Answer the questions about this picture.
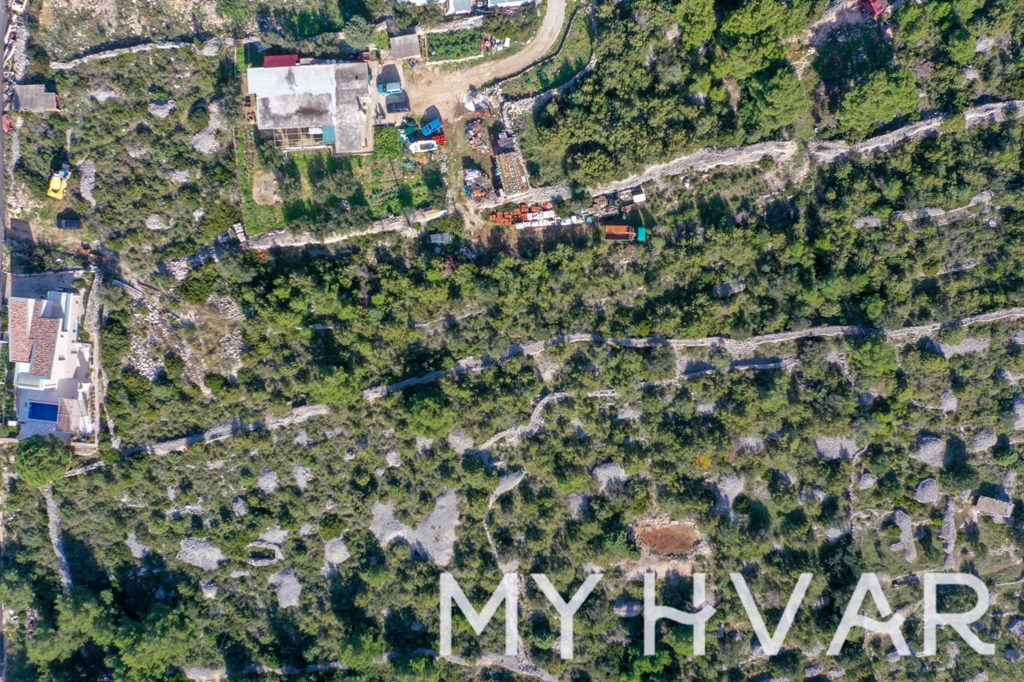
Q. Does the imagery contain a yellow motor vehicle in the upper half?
Yes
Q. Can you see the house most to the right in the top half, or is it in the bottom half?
bottom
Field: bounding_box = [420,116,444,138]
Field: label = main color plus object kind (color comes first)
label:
blue car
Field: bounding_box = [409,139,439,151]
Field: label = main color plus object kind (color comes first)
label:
white boat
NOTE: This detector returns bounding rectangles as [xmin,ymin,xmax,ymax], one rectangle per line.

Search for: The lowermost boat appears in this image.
[419,210,447,223]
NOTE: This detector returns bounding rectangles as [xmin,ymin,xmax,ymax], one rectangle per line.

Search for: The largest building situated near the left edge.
[9,292,91,392]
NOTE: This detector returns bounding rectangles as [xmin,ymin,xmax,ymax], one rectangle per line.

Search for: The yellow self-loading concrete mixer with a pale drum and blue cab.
[48,163,75,202]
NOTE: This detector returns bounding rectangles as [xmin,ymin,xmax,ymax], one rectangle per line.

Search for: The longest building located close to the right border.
[967,494,1014,523]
